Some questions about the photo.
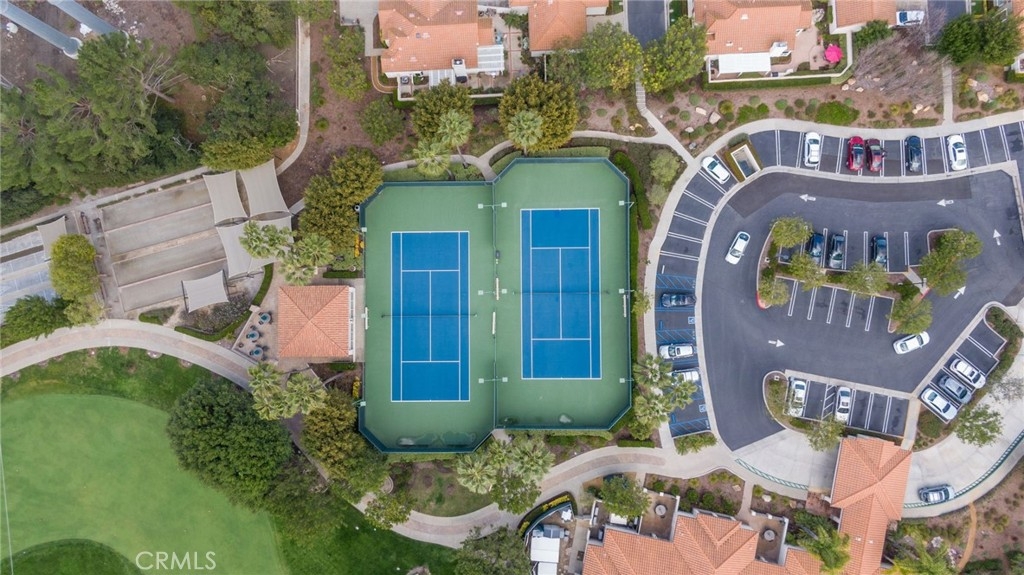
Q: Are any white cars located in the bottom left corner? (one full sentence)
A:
No, I see no white car in the bottom left corner.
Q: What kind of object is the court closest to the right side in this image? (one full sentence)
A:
It looks like the court closest to the right side is a tennis court.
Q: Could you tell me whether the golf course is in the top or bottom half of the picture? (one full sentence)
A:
The golf course is in the bottom half of the image.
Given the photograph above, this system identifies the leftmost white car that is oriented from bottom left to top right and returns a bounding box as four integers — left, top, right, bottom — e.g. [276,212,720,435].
[723,230,751,265]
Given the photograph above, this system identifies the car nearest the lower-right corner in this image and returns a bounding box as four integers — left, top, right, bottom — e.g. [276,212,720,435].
[916,485,954,502]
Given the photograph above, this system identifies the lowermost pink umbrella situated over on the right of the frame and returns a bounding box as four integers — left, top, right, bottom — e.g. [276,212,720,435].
[824,45,841,62]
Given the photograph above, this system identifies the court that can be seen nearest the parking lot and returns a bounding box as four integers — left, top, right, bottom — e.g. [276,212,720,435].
[494,163,627,427]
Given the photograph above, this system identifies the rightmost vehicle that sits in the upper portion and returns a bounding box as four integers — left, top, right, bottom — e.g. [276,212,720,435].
[945,135,965,171]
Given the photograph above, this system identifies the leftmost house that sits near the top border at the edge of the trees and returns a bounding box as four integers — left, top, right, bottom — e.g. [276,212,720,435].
[378,0,505,89]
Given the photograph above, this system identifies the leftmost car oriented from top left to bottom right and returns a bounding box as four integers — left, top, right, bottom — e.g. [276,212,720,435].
[699,156,731,185]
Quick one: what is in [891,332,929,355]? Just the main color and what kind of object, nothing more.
white car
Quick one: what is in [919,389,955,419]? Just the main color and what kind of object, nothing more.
white car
